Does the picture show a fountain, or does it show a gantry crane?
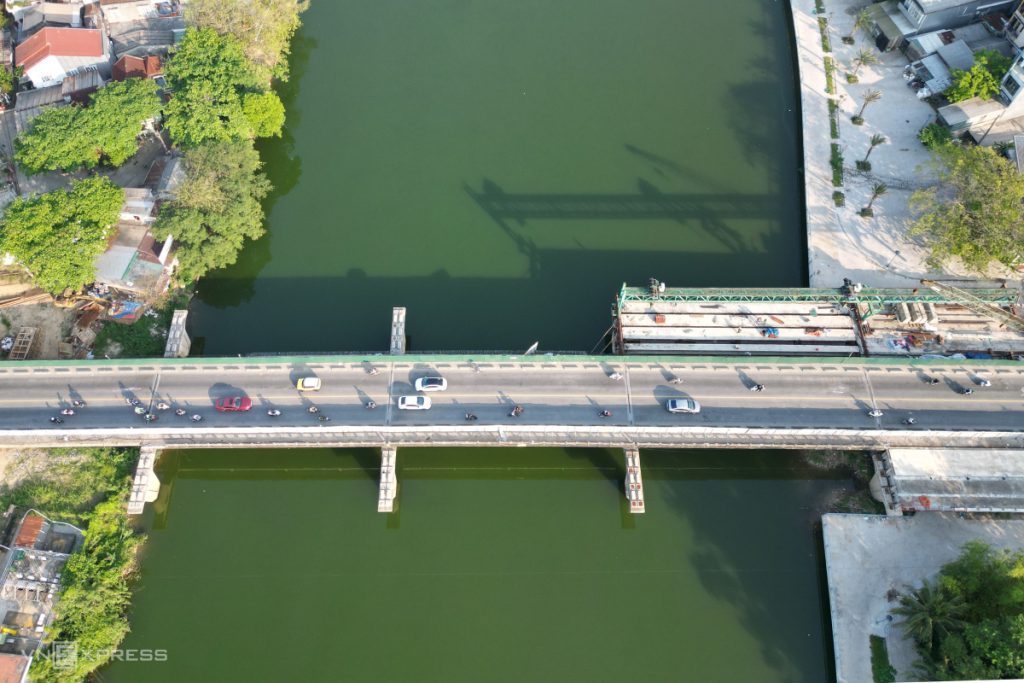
gantry crane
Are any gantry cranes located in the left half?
No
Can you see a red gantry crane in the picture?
No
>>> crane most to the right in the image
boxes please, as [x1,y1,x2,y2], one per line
[918,274,1024,347]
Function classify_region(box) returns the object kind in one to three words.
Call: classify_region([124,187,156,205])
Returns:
shed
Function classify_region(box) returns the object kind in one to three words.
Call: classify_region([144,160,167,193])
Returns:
shed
